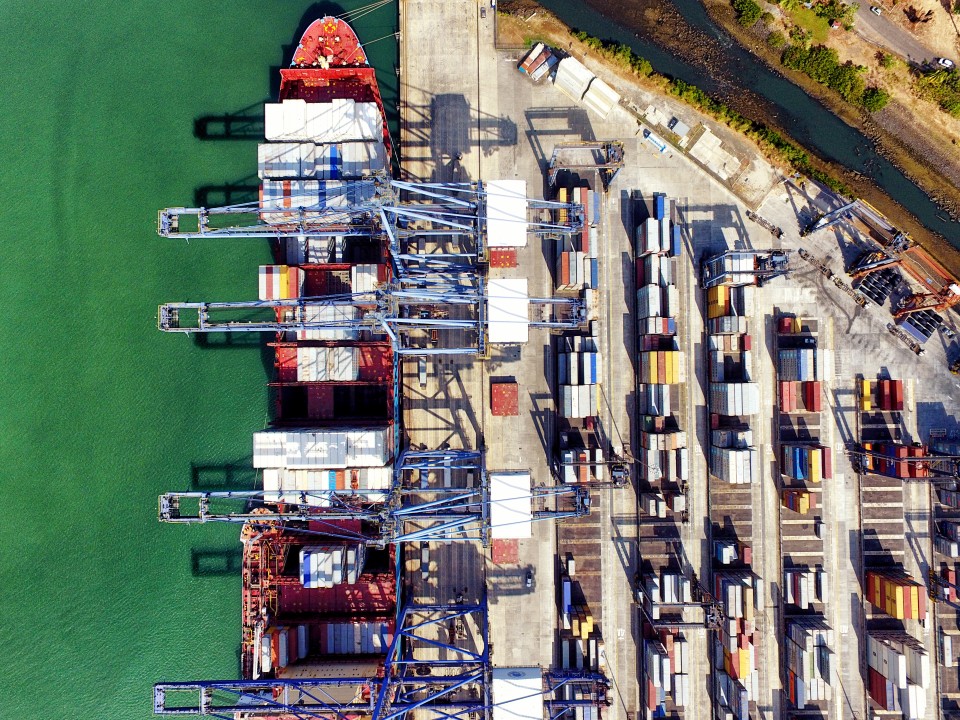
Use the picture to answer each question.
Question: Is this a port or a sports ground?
port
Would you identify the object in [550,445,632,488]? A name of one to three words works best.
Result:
container crane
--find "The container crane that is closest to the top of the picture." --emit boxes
[547,141,625,195]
